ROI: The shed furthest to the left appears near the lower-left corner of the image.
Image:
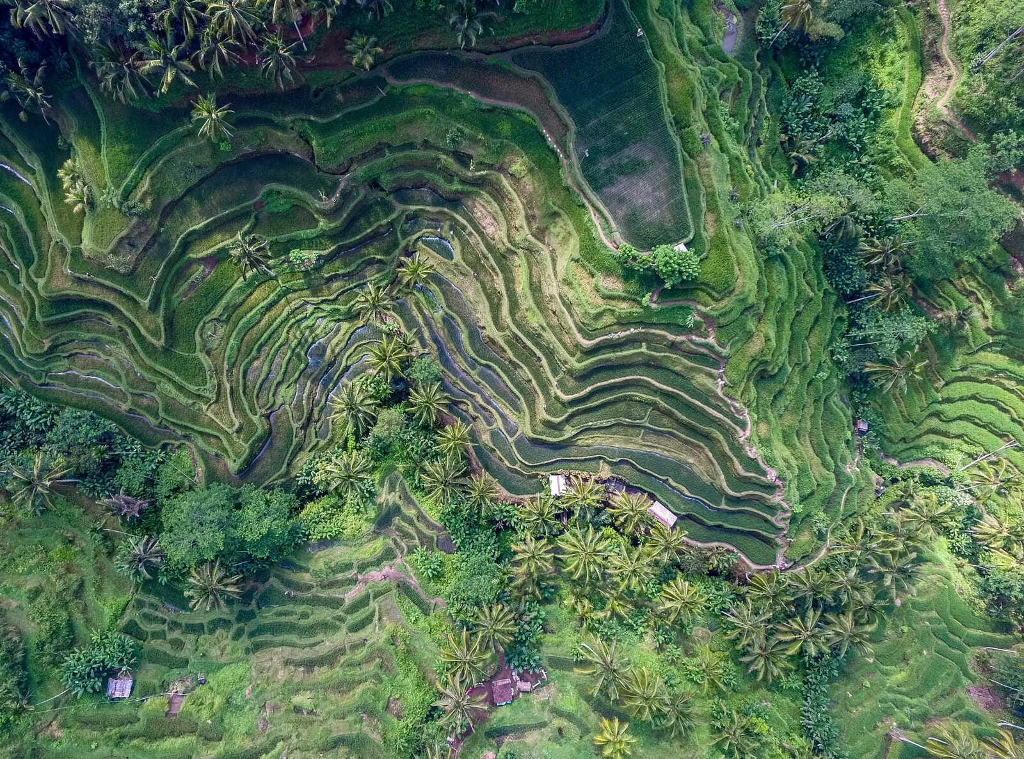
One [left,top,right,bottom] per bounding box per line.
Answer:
[107,675,136,697]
